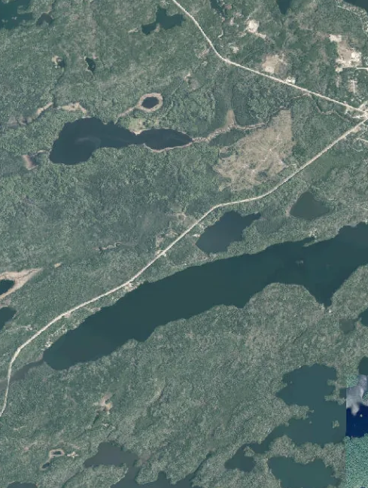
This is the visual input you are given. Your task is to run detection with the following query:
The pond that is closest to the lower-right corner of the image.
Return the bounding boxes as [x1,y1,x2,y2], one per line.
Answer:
[268,455,339,488]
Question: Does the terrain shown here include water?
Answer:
Yes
